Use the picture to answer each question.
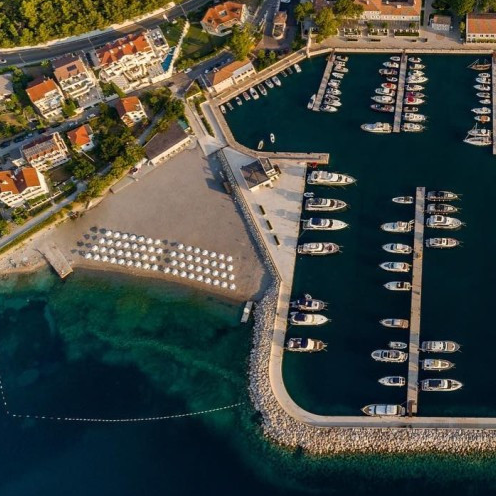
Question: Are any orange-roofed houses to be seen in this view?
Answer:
Yes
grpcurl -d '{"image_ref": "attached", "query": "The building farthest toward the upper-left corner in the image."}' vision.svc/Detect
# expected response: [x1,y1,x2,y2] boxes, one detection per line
[0,72,23,103]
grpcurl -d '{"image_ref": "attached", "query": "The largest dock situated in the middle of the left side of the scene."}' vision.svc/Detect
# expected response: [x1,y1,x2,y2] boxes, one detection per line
[38,248,74,278]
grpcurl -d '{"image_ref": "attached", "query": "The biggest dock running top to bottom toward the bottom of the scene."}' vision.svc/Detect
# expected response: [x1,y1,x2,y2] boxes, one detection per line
[407,187,425,420]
